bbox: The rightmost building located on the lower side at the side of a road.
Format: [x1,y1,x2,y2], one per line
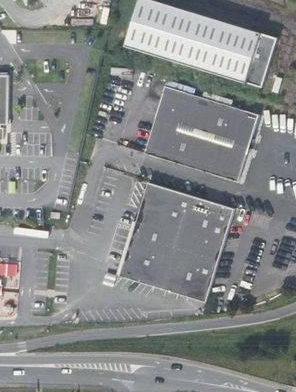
[116,182,236,302]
